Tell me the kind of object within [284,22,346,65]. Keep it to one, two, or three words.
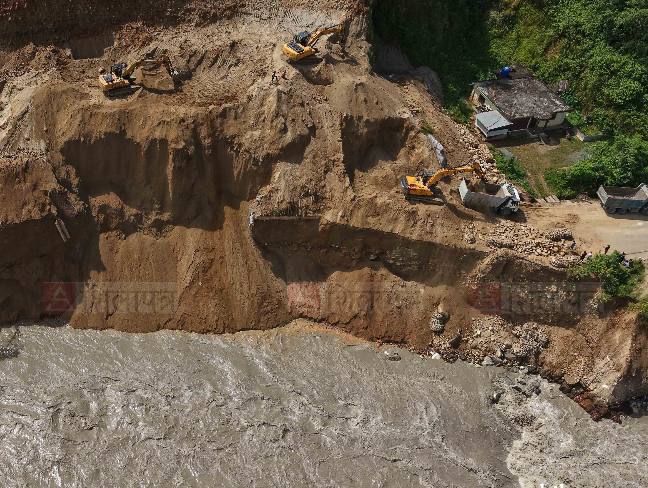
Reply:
work vehicle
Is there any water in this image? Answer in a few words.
Yes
